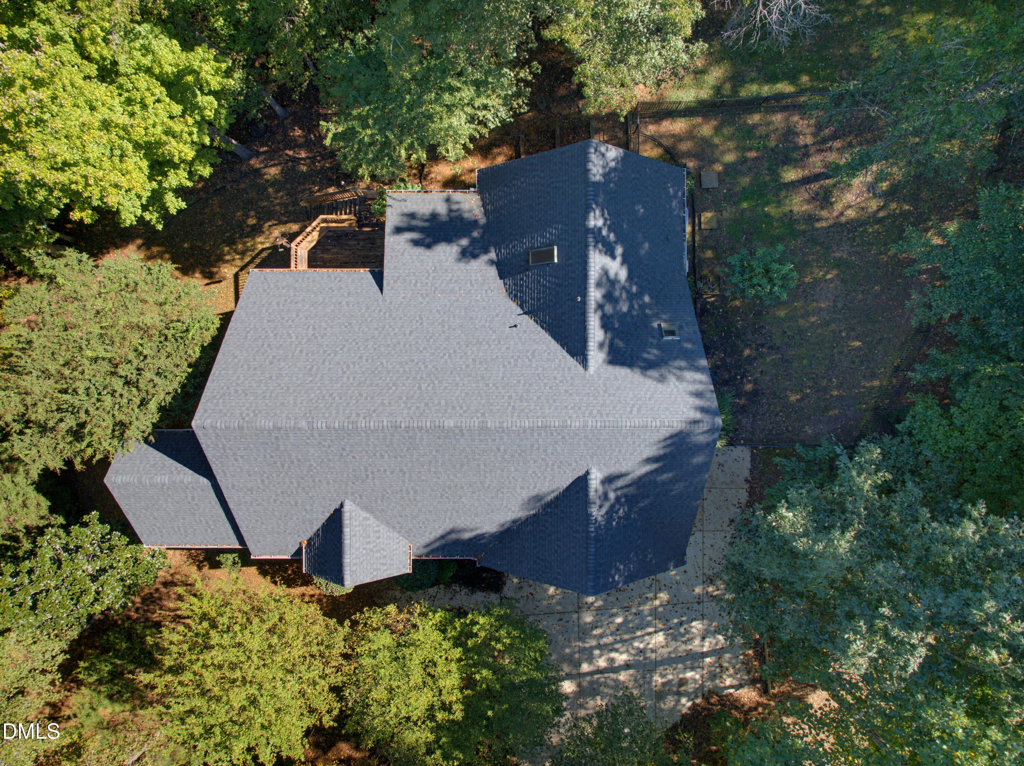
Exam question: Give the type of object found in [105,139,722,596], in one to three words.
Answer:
house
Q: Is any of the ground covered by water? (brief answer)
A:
No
